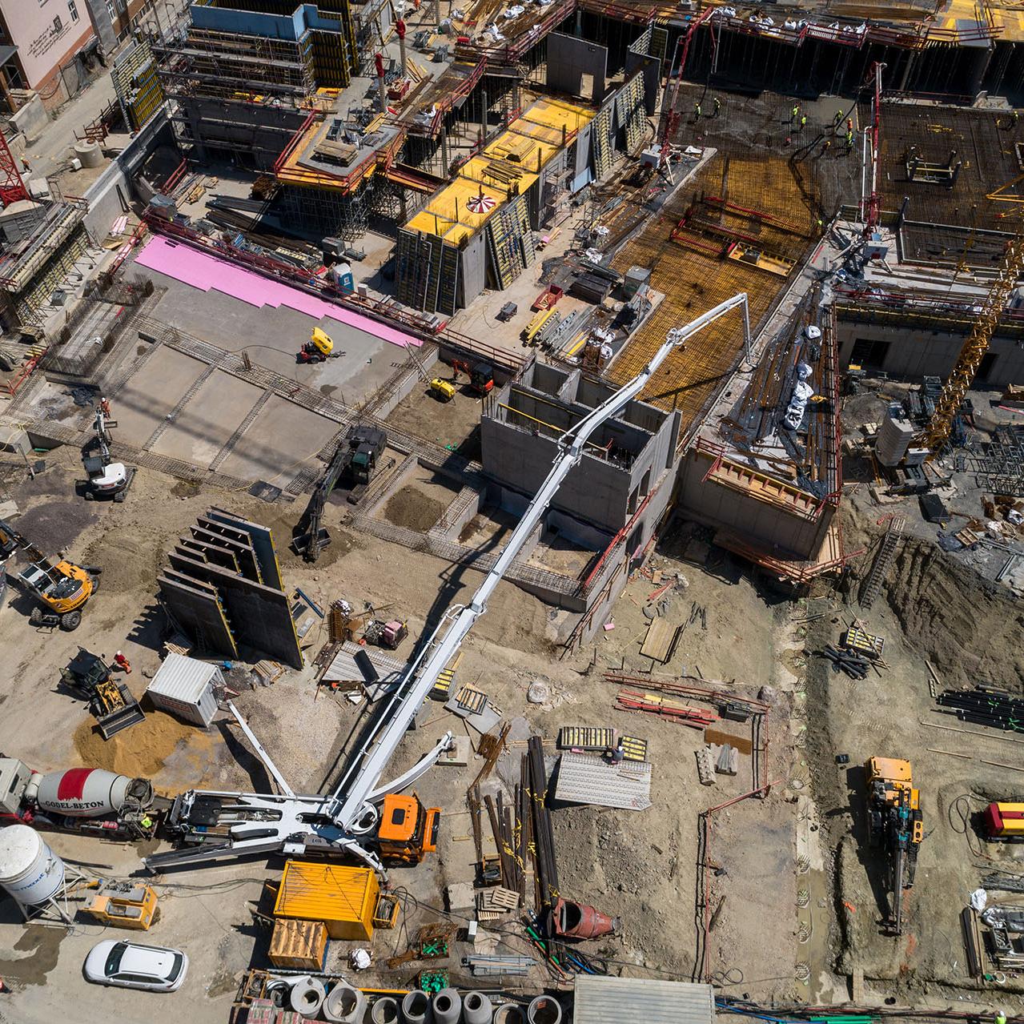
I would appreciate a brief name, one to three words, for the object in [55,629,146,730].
work vehicle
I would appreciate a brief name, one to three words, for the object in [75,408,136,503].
work vehicle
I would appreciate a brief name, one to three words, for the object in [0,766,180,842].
truck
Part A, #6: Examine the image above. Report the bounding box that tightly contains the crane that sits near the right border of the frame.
[859,176,1024,501]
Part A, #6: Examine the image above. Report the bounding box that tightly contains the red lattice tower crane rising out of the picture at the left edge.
[0,124,20,208]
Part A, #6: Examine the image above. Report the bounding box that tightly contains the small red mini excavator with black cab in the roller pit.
[451,358,499,396]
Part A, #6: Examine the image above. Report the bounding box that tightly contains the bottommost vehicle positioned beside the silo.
[79,932,188,988]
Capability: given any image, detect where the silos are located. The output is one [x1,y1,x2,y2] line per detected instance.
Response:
[0,829,76,924]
